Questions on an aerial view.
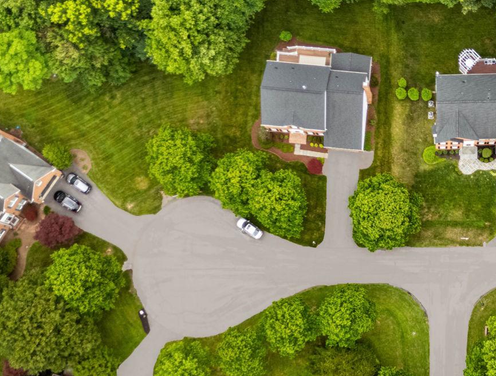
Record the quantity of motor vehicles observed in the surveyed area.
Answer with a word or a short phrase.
three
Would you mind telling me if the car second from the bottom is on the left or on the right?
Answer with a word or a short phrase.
left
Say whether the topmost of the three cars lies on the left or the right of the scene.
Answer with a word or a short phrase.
left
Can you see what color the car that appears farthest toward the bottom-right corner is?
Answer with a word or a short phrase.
white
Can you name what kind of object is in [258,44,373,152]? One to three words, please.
house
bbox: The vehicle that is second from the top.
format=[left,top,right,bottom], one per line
[52,190,80,212]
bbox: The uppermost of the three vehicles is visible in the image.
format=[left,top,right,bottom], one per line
[62,171,90,194]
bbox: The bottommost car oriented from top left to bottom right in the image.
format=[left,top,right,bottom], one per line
[235,218,261,240]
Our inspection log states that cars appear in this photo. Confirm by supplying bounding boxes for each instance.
[235,218,261,240]
[62,171,90,194]
[52,190,80,212]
